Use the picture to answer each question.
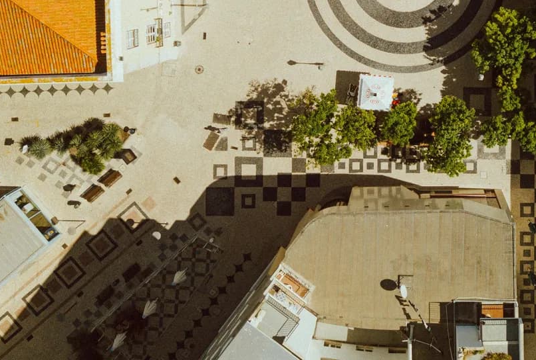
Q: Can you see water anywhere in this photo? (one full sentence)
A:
No, the picture contains no water.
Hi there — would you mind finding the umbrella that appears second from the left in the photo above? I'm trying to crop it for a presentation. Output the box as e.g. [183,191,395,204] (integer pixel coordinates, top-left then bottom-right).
[145,295,162,316]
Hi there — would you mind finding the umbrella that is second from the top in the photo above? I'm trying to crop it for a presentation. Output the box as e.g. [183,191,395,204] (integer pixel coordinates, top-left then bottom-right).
[174,266,189,285]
